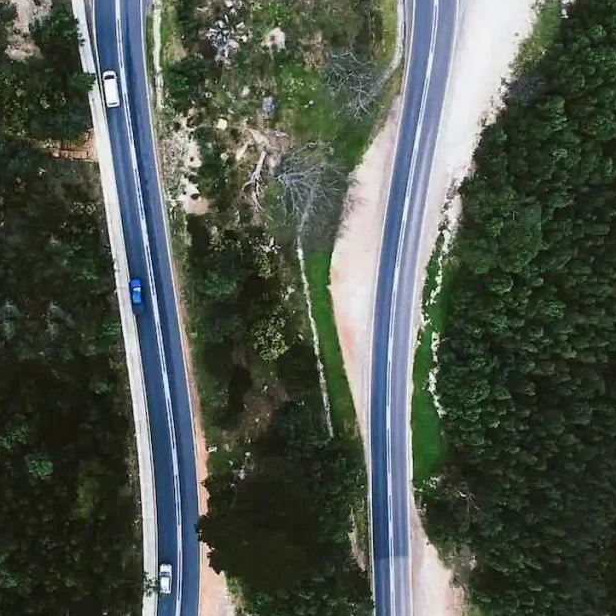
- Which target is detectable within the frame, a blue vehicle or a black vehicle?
blue vehicle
